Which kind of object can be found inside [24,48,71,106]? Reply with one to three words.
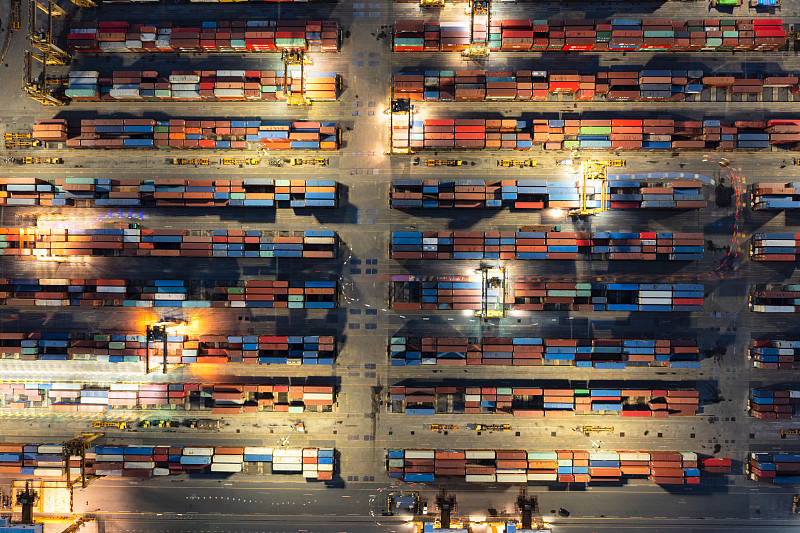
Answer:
container crane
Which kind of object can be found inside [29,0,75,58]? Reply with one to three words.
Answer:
container crane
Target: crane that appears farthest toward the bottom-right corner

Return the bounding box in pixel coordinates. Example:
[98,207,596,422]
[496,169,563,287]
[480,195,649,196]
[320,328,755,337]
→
[484,493,551,533]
